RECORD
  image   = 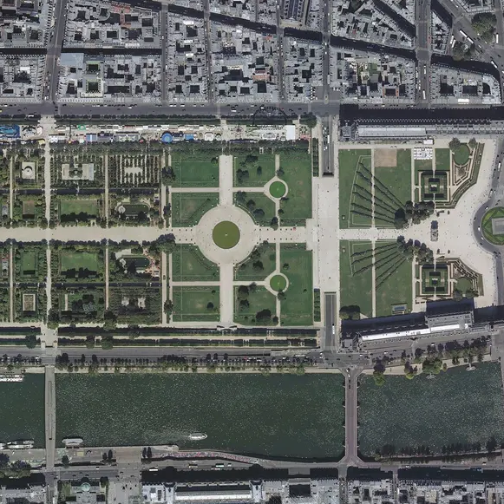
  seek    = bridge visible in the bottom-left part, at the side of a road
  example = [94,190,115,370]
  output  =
[43,365,56,473]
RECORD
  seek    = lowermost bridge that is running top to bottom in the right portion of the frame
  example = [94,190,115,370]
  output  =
[334,365,370,469]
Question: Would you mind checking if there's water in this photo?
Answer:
Yes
